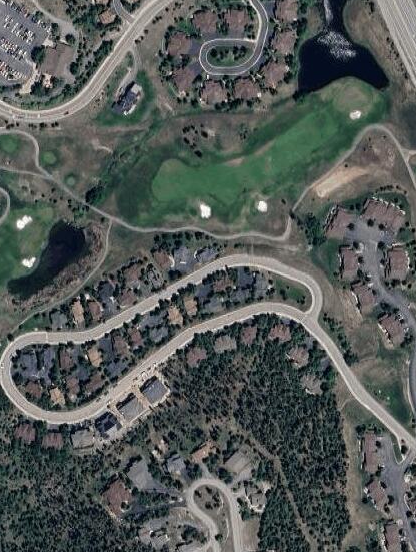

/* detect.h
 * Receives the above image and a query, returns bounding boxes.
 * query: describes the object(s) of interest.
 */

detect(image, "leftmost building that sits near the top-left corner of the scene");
[43,46,75,80]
